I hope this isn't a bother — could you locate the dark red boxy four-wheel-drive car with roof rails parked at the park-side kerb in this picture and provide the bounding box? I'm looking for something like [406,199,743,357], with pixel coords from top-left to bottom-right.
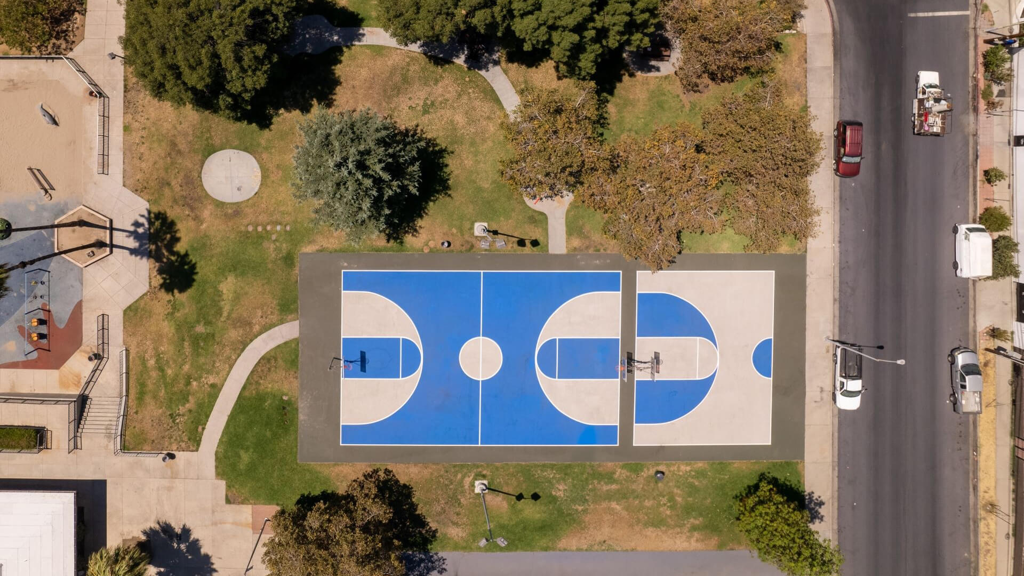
[835,121,865,177]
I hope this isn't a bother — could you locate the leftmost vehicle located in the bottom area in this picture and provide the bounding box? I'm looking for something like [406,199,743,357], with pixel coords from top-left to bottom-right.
[834,344,866,410]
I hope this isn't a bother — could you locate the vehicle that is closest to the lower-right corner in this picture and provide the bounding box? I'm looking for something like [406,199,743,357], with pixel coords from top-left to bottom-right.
[950,348,987,416]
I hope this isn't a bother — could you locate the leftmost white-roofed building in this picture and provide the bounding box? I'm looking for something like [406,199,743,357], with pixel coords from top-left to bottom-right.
[0,481,87,576]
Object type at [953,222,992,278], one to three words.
van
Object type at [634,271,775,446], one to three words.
basketball court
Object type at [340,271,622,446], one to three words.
basketball court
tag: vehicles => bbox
[950,348,987,416]
[835,121,865,177]
[953,222,992,278]
[908,71,950,136]
[834,344,866,410]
